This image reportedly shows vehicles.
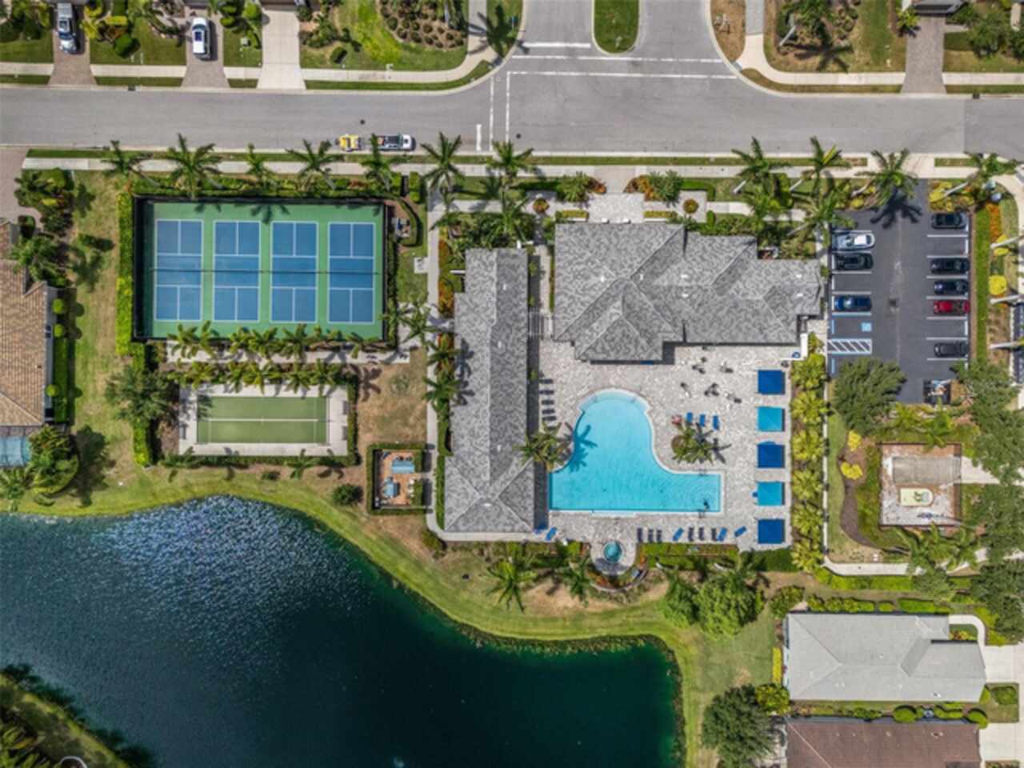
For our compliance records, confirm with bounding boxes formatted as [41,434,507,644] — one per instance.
[932,341,966,358]
[57,3,80,52]
[191,20,211,59]
[371,132,415,152]
[928,257,966,275]
[832,295,871,313]
[833,232,874,250]
[928,212,963,229]
[932,299,968,316]
[833,253,872,271]
[931,279,966,296]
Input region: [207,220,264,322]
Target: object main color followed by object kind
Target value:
blue sports court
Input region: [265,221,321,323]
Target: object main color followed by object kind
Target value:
blue sports court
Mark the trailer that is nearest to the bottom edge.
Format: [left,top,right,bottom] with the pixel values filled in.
[926,377,955,405]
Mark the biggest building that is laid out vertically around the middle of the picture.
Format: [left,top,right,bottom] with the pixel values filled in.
[444,246,535,532]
